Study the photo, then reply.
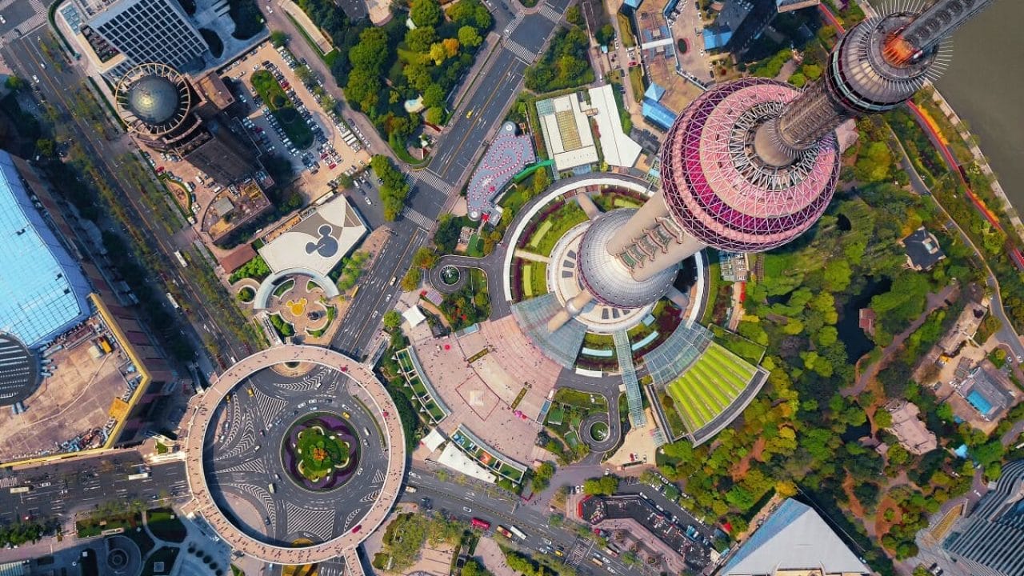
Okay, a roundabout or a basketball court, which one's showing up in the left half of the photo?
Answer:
roundabout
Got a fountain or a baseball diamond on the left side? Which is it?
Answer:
fountain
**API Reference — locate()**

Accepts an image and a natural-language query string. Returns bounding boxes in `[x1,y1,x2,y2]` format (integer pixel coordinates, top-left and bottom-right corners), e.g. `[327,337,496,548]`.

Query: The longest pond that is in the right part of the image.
[837,272,891,365]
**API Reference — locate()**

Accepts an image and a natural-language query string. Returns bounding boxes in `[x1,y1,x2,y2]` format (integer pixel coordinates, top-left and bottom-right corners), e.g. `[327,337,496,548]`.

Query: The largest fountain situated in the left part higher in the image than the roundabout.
[303,306,322,324]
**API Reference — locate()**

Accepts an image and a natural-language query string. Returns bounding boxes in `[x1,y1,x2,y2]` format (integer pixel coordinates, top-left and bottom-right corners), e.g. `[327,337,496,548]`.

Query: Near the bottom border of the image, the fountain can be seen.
[93,535,141,576]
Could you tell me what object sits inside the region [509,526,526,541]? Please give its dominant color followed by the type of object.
white vehicle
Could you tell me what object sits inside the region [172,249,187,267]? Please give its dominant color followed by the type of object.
white vehicle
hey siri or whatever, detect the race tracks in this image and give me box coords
[466,122,533,227]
